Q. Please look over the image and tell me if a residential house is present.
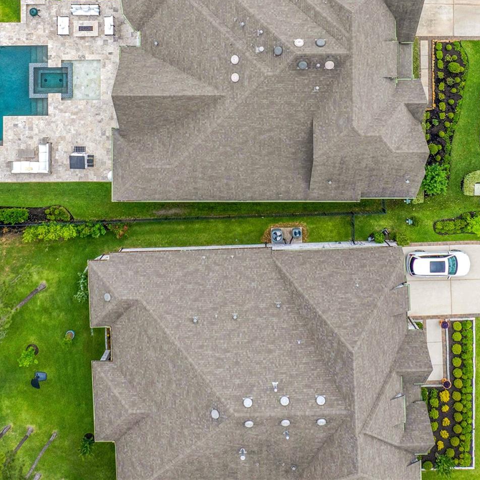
Yes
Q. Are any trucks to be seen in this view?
No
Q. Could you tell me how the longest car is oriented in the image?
from side to side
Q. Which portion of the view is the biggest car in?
right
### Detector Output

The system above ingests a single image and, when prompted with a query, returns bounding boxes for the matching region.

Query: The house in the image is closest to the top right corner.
[111,0,429,202]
